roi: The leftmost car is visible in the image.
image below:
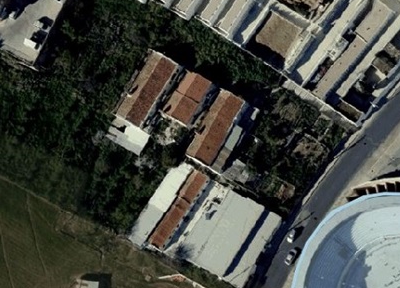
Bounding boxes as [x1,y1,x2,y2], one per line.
[6,7,20,24]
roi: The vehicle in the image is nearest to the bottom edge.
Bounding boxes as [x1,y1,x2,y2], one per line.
[284,247,298,265]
